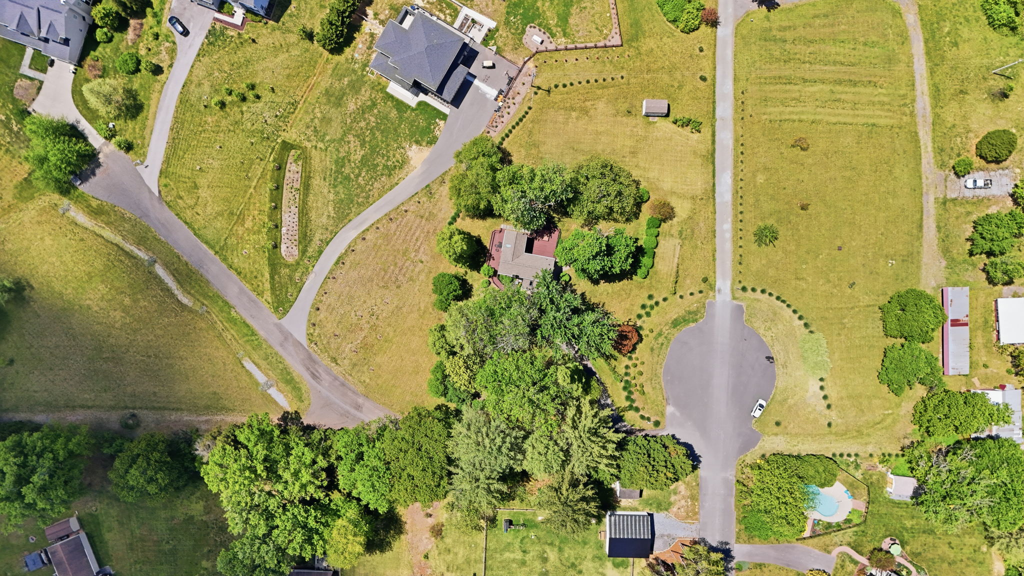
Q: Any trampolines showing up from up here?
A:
No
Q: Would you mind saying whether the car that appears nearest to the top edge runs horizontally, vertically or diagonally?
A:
diagonally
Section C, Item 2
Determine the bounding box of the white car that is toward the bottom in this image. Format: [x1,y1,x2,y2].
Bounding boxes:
[750,398,767,418]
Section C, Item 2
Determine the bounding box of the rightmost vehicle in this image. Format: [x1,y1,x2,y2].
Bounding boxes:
[964,177,994,189]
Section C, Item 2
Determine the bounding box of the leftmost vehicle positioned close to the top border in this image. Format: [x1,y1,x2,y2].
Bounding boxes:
[169,16,189,37]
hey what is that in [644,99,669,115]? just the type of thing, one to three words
shed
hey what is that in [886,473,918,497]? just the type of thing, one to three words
shed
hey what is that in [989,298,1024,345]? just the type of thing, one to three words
building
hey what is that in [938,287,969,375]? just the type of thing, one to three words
barn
